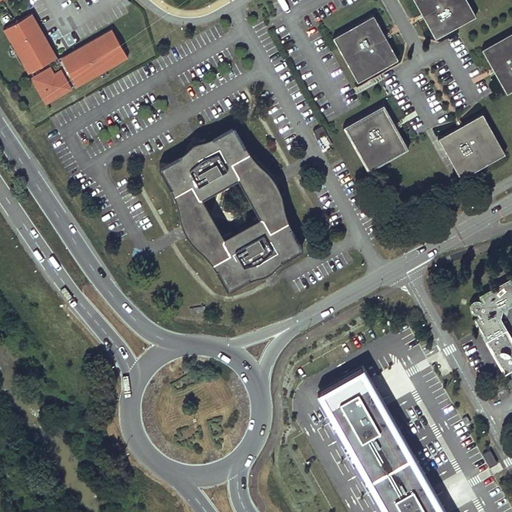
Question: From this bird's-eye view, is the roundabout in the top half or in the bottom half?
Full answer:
You can find the roundabout in the bottom half.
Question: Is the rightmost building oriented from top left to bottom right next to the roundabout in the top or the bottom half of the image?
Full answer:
The rightmost building oriented from top left to bottom right next to the roundabout sits in the bottom half of the picture.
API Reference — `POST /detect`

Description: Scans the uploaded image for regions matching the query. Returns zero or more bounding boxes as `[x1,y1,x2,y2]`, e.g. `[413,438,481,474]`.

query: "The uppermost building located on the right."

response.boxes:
[412,0,476,42]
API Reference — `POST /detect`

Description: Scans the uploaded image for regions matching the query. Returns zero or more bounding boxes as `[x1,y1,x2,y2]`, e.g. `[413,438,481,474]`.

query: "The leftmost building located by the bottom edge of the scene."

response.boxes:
[316,369,441,512]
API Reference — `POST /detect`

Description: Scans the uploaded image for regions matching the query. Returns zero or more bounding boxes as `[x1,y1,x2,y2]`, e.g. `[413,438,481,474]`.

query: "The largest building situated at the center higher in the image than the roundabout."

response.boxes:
[161,130,302,293]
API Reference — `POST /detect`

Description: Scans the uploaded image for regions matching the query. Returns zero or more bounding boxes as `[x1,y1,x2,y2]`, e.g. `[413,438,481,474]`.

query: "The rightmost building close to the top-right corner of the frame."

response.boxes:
[482,35,512,96]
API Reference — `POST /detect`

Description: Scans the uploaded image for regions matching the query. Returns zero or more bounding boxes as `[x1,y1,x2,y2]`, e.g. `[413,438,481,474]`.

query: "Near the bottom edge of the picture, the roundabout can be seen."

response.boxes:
[119,334,282,512]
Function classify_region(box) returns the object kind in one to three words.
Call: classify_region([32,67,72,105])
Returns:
house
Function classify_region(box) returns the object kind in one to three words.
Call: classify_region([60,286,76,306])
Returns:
vehicle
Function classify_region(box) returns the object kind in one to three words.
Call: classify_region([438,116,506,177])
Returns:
building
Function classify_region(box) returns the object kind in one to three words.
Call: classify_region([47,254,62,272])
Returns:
vehicle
